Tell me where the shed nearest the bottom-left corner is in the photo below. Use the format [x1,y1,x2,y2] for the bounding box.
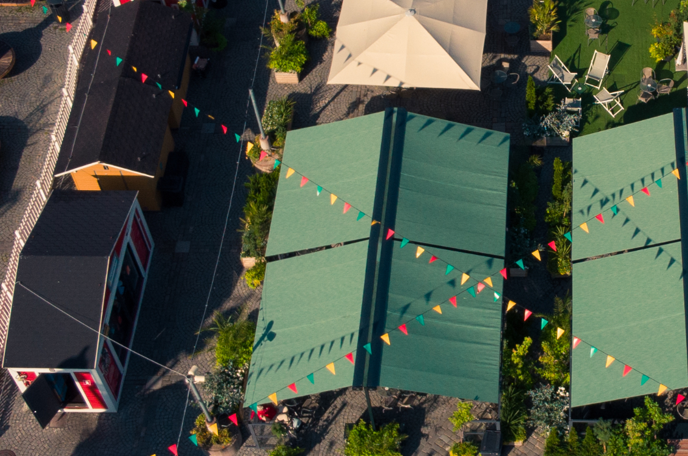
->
[1,192,157,438]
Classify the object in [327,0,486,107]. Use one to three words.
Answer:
umbrella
